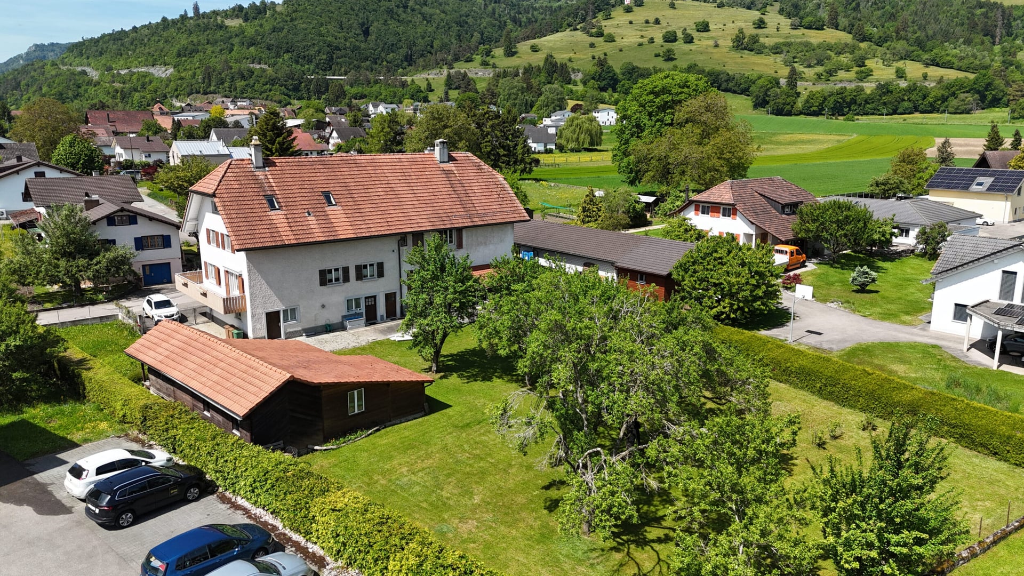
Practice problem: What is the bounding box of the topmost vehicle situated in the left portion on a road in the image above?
[147,290,178,320]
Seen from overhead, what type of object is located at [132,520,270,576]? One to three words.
car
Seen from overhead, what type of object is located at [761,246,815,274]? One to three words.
truck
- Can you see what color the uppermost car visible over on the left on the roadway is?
white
